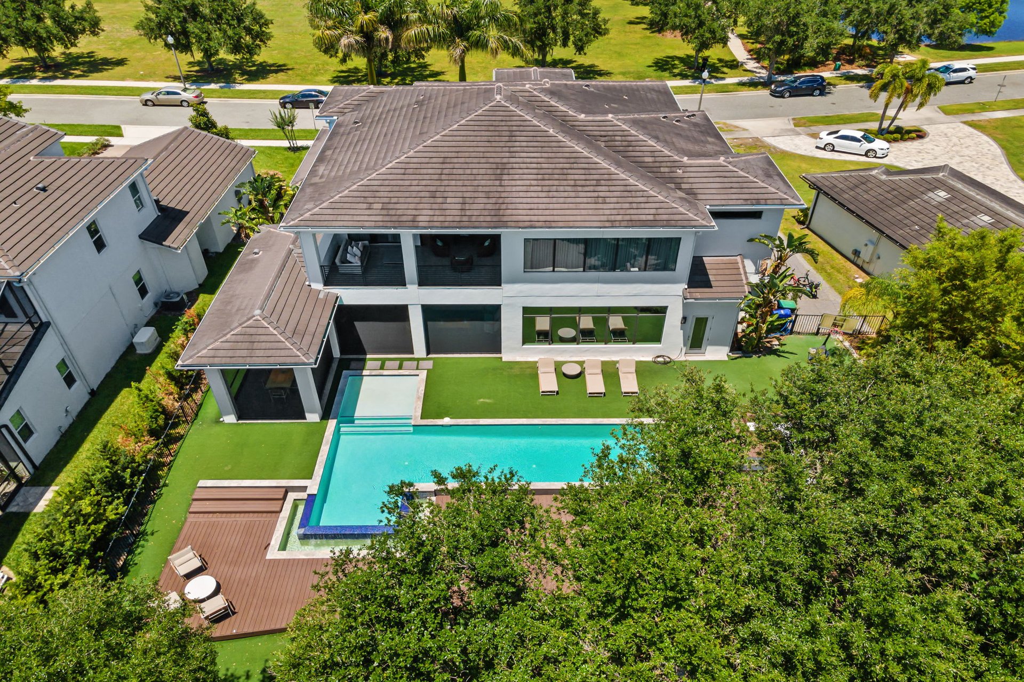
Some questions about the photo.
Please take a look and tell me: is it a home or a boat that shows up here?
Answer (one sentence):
It is a home that can be seen here.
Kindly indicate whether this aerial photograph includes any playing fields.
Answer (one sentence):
No, no playing field can be seen from above.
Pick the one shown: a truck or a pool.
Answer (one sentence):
It is a pool that can be seen here.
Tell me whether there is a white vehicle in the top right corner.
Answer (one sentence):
Yes, there is a white vehicle in the top right corner.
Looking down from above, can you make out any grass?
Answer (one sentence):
Yes, there is grass in the image.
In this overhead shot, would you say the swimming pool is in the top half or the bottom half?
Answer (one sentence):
It is in the bottom half that the swimming pool appears.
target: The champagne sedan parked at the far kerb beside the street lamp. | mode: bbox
[141,78,208,104]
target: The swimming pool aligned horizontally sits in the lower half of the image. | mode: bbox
[194,370,666,549]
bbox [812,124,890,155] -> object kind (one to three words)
car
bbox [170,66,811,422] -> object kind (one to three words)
house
